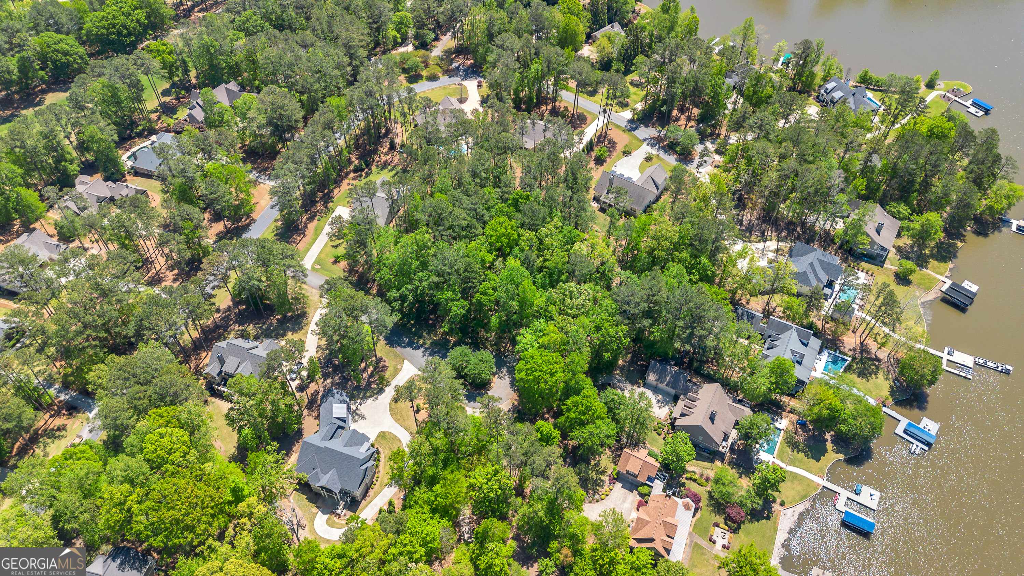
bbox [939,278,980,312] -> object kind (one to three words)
pier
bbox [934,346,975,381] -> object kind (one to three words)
pier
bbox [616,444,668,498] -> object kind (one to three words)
building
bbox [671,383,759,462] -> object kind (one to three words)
house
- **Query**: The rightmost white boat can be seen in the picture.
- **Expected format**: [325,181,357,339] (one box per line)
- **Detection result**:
[974,355,1014,374]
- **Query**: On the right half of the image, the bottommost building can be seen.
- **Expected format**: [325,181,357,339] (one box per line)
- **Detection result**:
[623,489,697,563]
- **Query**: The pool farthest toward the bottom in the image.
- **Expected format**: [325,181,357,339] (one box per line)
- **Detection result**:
[753,415,789,462]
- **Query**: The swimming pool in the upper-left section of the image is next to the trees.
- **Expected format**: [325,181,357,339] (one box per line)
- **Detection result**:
[122,143,145,163]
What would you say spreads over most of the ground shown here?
trees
